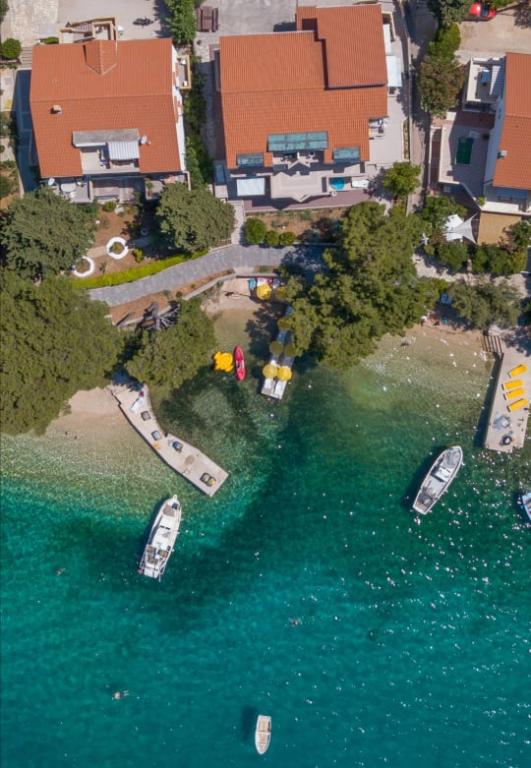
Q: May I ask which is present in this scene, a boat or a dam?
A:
boat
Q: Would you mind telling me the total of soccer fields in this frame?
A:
0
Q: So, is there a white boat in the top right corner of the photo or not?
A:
No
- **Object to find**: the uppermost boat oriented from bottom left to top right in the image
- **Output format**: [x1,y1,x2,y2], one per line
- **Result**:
[410,447,466,520]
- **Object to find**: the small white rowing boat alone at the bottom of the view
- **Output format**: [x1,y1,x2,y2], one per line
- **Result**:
[255,713,272,759]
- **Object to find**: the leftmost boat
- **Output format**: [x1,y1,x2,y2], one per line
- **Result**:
[130,496,178,586]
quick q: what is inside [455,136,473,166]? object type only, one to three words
swimming pool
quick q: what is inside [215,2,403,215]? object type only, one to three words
house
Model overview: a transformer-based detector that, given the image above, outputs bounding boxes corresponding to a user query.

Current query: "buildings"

[28,16,193,213]
[424,52,531,250]
[215,2,403,215]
